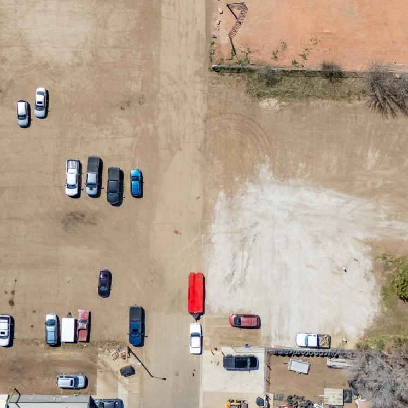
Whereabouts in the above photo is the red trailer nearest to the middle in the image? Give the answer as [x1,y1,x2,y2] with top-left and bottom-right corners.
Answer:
[188,272,203,317]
